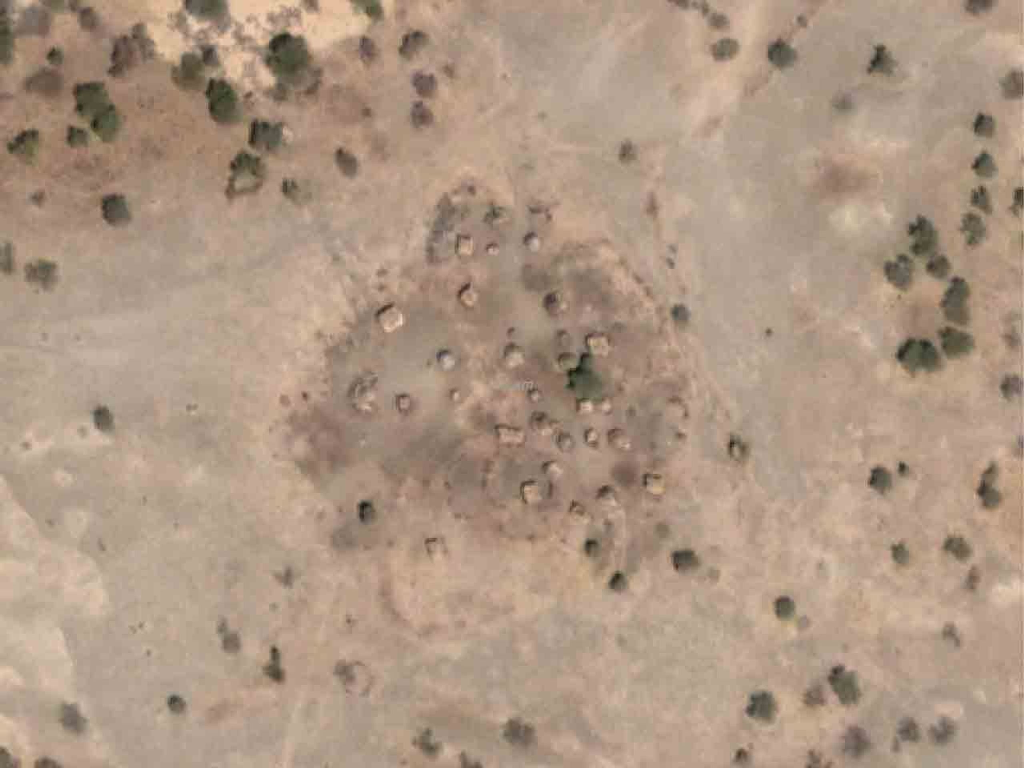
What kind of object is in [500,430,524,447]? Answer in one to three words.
house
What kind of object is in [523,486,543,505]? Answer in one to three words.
house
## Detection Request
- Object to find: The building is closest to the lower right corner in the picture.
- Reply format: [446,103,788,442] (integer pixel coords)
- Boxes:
[647,477,666,496]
